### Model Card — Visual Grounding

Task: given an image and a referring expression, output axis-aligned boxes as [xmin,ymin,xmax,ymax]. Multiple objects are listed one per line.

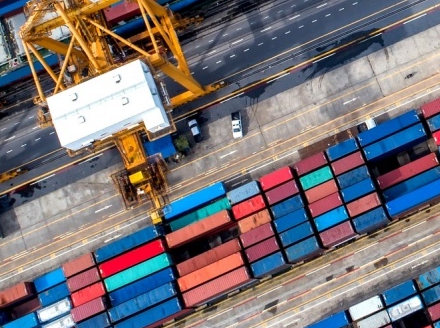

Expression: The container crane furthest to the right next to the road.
[9,0,224,222]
